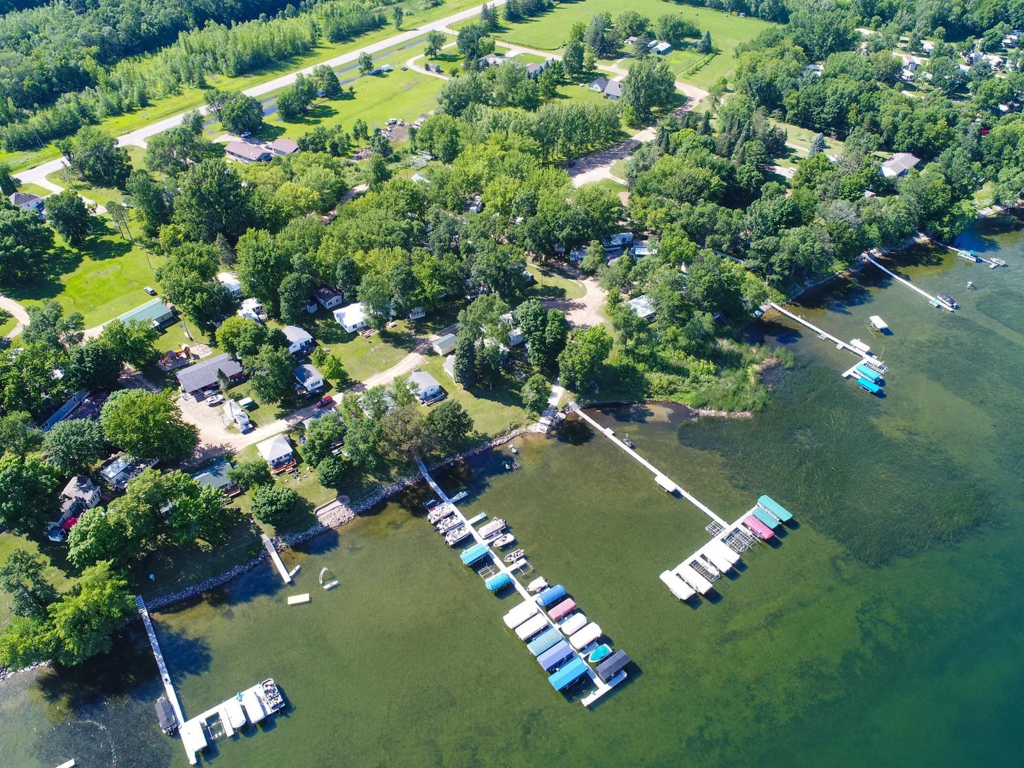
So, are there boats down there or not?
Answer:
Yes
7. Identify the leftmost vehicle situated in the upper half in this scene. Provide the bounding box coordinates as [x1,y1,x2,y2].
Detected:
[142,284,158,297]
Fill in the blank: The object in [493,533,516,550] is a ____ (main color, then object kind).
white boat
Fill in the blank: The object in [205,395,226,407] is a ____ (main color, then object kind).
white vehicle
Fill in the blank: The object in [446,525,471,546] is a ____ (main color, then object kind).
white boat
